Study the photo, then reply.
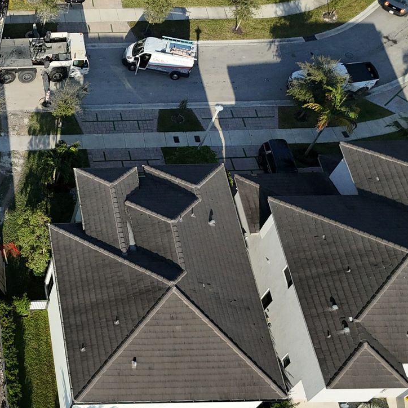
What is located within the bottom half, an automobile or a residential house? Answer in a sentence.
Visible within the bottom half is a residential house.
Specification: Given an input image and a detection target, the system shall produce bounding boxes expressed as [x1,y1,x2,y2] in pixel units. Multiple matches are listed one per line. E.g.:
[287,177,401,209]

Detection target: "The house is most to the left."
[45,162,288,408]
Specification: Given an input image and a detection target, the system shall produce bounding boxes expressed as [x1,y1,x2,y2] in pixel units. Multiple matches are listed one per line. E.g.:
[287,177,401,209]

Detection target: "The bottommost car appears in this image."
[253,130,309,173]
